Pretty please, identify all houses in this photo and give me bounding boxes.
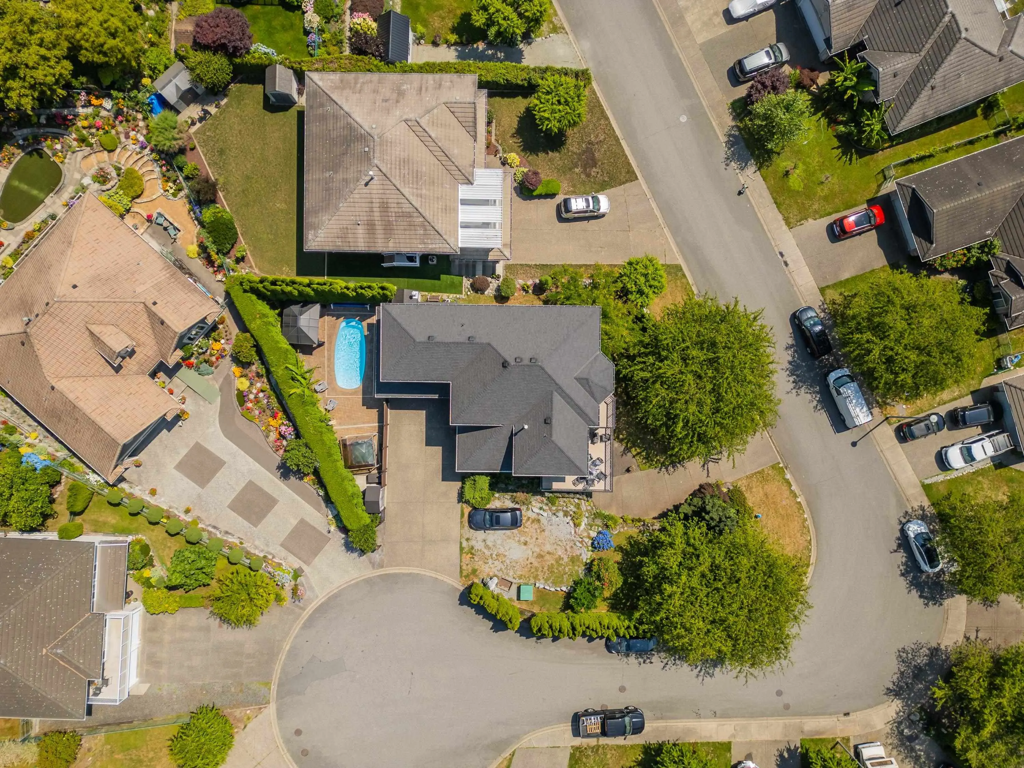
[882,135,1024,330]
[304,71,512,265]
[375,303,615,492]
[0,530,150,721]
[986,370,1024,463]
[806,0,1024,139]
[0,190,227,485]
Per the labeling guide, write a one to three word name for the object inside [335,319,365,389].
swimming pool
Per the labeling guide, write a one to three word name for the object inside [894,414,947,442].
car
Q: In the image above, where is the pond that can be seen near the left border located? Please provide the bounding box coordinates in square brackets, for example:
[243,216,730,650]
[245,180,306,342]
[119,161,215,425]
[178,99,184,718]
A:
[0,143,65,226]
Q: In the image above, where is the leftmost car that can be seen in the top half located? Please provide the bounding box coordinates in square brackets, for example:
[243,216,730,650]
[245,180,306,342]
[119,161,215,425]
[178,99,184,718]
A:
[559,192,610,219]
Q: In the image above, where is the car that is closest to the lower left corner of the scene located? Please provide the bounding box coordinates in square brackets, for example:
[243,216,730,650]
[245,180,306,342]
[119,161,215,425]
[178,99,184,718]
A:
[469,507,521,532]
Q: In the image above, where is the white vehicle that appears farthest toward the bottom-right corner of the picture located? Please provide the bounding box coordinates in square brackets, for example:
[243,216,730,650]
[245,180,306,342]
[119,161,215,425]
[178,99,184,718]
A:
[860,737,892,768]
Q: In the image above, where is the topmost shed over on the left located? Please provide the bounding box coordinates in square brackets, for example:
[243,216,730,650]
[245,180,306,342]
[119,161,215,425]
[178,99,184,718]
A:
[378,10,412,64]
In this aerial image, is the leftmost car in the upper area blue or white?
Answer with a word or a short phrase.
white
